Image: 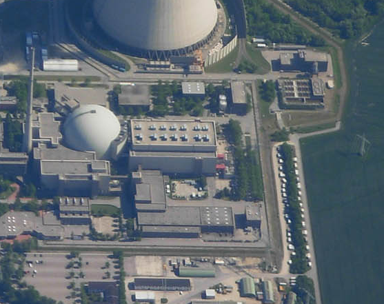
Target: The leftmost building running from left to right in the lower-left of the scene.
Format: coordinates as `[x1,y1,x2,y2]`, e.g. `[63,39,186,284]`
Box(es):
[0,211,65,241]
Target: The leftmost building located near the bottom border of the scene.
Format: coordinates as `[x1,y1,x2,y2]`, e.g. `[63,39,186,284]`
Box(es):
[88,282,119,304]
